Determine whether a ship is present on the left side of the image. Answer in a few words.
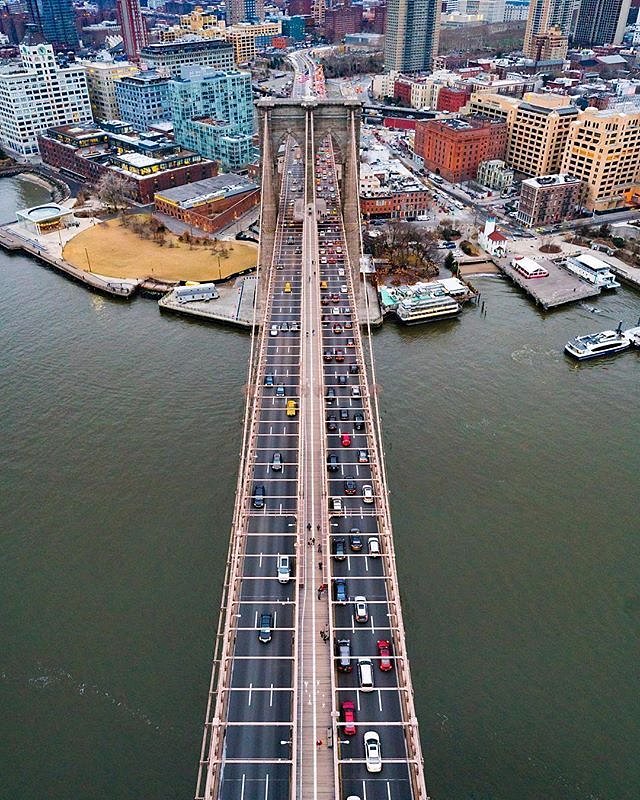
No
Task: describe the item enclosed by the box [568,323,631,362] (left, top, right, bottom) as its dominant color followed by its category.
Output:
white ship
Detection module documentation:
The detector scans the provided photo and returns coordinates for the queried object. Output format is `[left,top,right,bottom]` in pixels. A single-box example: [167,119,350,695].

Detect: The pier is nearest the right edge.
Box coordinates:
[490,252,603,316]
